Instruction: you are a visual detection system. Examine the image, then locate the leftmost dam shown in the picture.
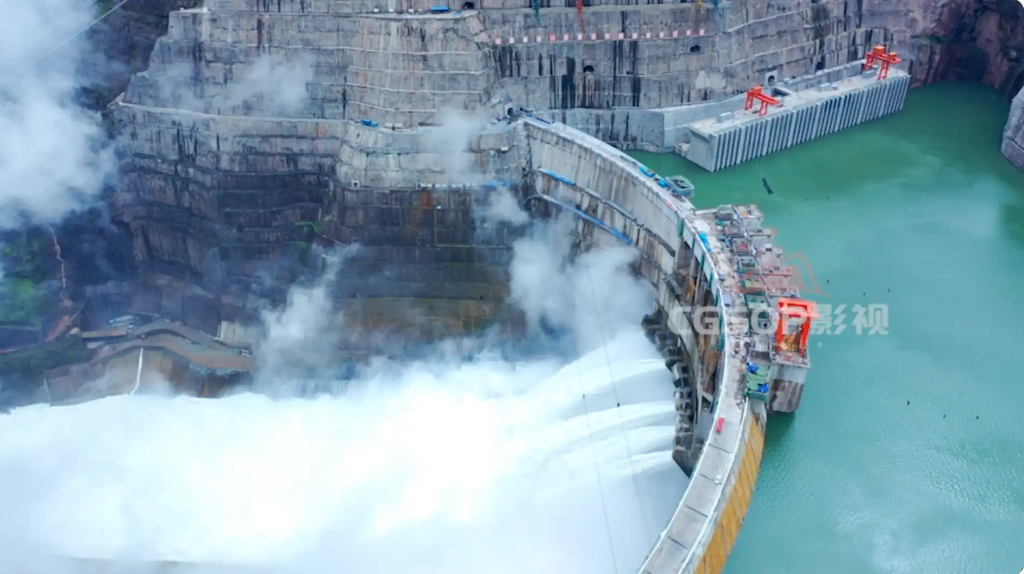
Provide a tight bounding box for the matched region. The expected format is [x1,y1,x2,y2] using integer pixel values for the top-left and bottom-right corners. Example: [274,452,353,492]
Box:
[518,116,765,574]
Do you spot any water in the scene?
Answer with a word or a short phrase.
Yes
